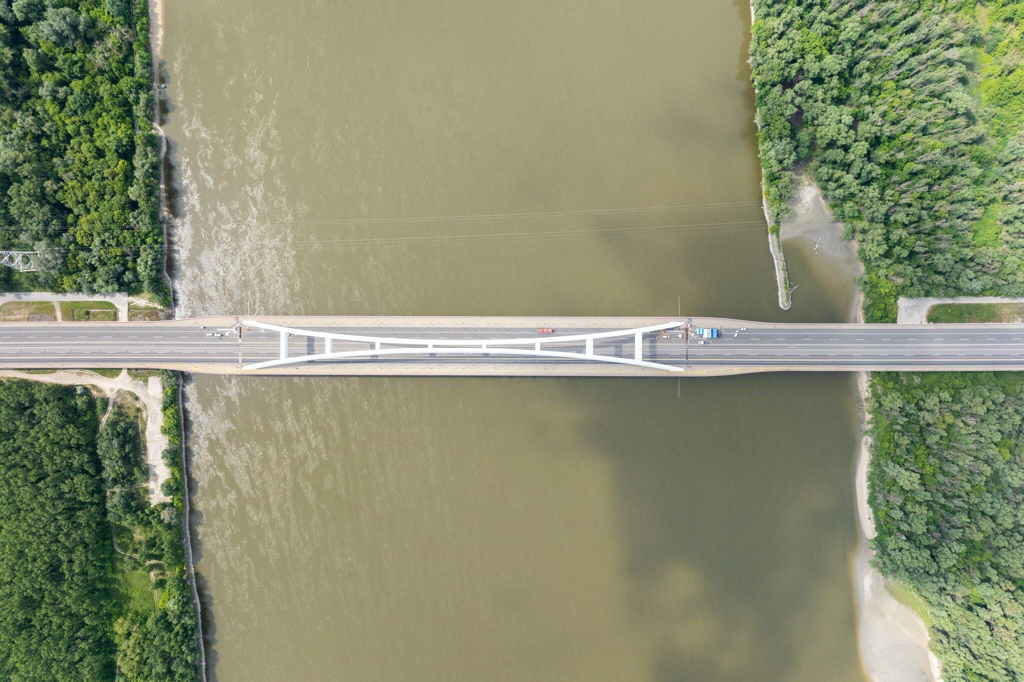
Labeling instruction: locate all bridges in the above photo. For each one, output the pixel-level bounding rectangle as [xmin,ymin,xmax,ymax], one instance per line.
[0,297,1024,395]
